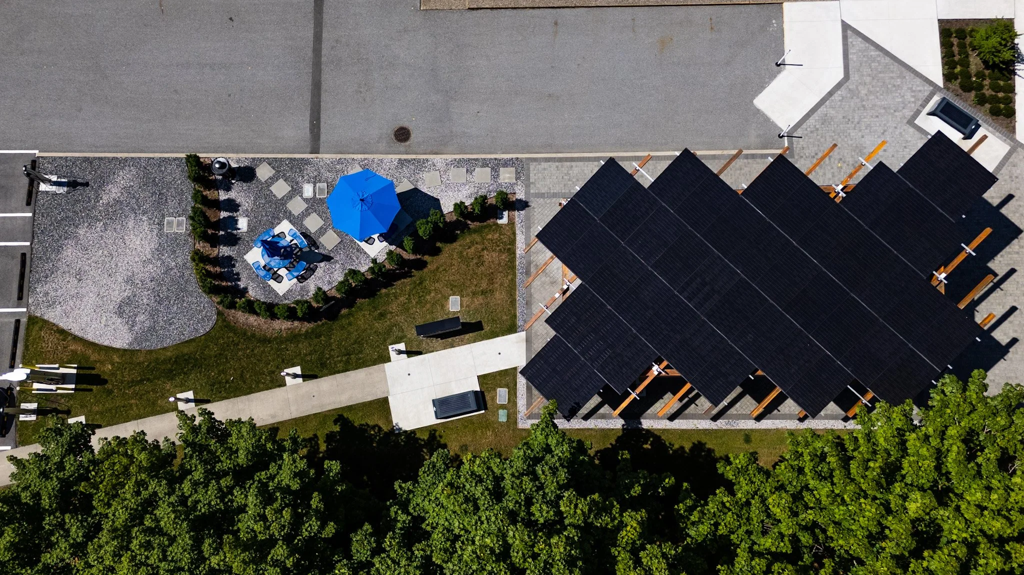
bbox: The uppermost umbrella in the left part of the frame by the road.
[326,168,401,240]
